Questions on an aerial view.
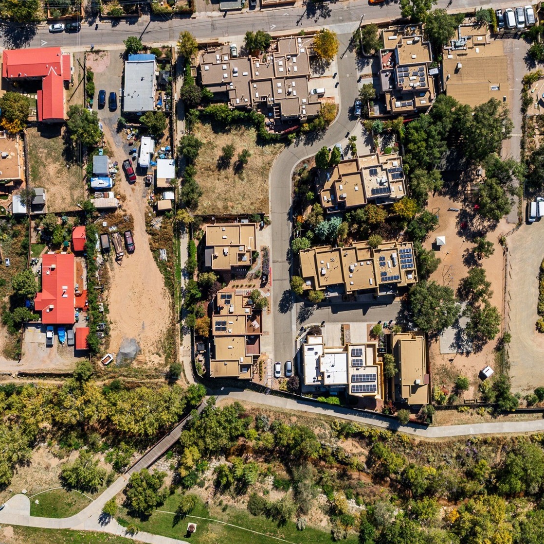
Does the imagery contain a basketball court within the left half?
No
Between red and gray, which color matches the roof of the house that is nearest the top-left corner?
red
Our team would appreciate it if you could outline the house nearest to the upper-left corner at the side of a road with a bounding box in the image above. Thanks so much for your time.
[3,46,75,123]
